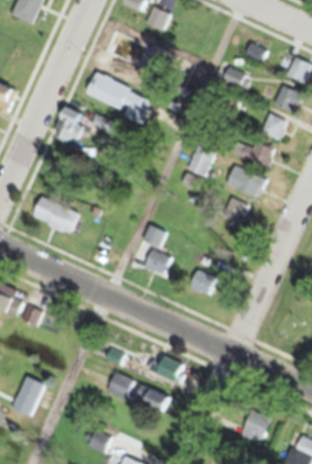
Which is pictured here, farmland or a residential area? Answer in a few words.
residential area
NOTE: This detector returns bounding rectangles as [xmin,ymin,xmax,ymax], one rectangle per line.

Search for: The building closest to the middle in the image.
[144,224,169,247]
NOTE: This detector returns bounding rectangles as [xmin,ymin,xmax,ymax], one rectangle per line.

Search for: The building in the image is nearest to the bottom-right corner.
[288,436,312,464]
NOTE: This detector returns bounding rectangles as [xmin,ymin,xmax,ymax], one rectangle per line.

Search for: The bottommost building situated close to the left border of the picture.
[16,377,45,416]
